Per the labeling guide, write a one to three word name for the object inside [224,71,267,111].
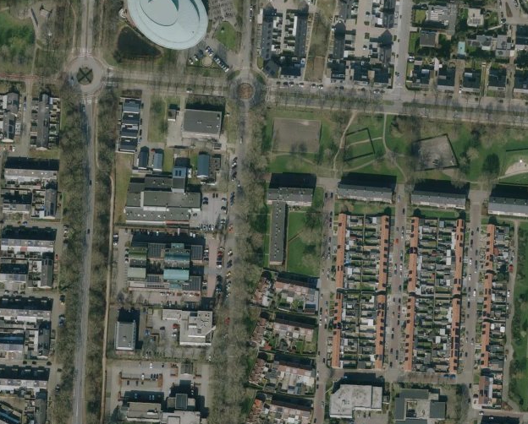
roundabout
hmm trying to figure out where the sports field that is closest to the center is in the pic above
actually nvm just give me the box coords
[271,116,323,153]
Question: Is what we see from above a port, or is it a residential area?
residential area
